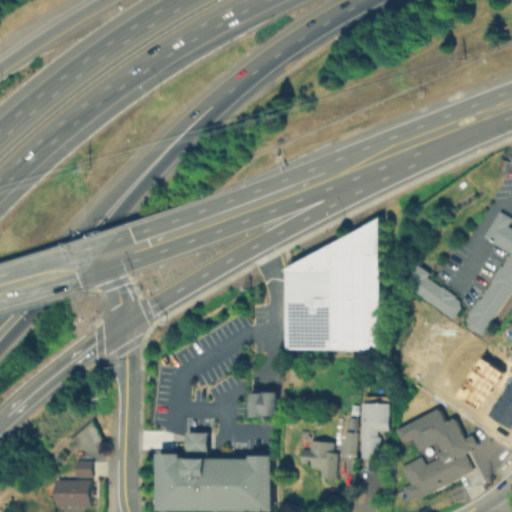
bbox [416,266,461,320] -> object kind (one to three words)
building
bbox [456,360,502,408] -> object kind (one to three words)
building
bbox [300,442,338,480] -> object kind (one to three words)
house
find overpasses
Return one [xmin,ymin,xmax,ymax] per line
[0,218,146,315]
